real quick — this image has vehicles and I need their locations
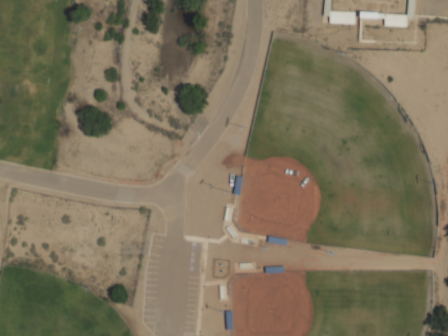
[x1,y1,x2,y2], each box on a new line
[230,173,235,188]
[284,170,300,176]
[299,174,312,188]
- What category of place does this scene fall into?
sports ground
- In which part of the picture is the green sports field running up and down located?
top left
